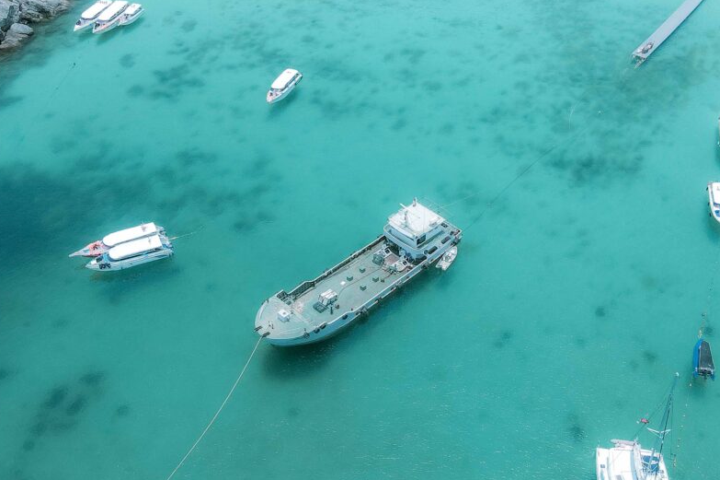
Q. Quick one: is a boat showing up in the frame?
Yes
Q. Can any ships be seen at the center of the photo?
Yes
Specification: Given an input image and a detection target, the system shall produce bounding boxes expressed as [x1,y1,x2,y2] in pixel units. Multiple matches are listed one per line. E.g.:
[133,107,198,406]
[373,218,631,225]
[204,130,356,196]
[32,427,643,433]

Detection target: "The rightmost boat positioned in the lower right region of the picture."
[693,340,720,386]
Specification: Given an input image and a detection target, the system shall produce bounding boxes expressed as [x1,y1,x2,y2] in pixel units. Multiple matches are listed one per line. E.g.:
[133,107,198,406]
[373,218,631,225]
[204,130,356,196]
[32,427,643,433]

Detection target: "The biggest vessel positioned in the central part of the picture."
[257,194,466,348]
